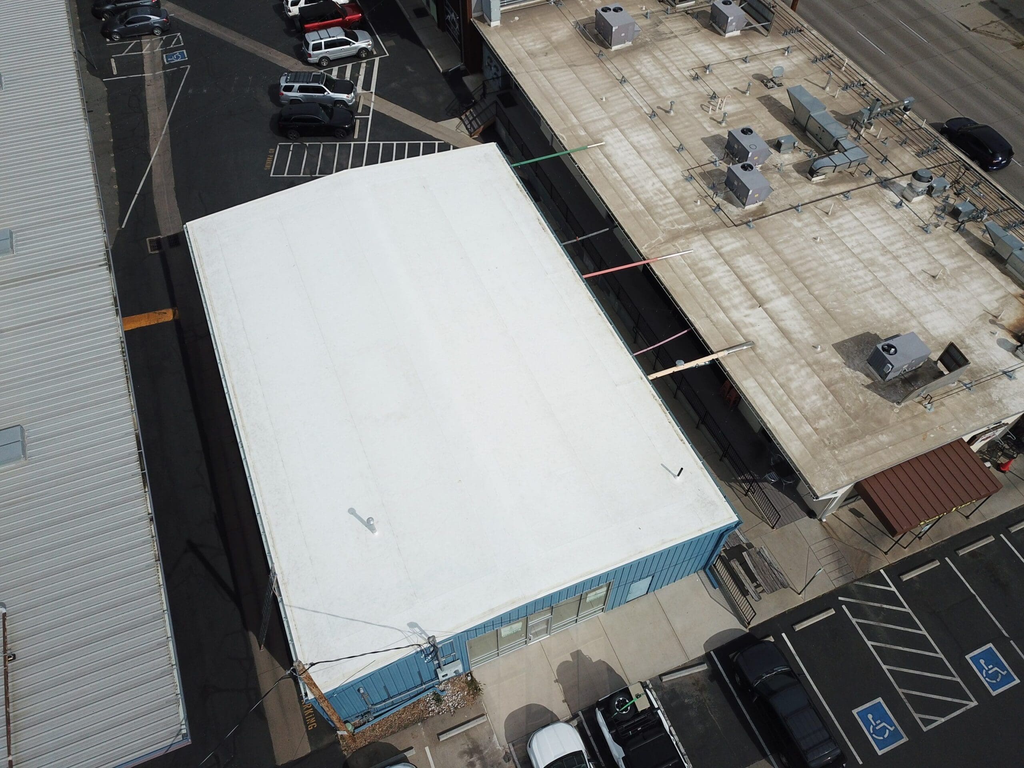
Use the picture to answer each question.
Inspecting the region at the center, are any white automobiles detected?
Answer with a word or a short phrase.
No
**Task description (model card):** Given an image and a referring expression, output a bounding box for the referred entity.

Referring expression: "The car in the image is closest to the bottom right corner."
[733,640,849,768]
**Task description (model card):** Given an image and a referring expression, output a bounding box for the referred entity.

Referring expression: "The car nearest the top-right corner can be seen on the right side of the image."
[941,113,1020,170]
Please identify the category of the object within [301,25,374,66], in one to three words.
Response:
car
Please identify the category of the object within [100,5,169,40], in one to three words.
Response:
car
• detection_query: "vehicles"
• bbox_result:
[395,760,431,768]
[274,98,358,140]
[941,113,1020,170]
[733,640,849,768]
[100,5,169,40]
[528,725,597,768]
[280,65,357,106]
[595,681,685,768]
[293,0,361,30]
[301,25,374,66]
